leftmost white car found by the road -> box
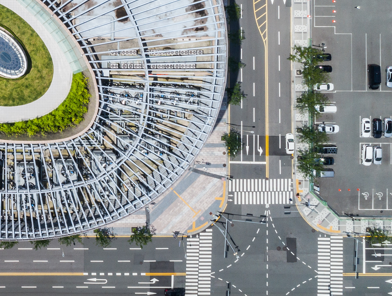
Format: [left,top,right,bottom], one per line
[283,133,296,154]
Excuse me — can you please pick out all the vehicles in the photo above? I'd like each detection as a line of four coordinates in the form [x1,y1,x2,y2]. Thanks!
[283,133,296,154]
[385,66,392,87]
[368,65,382,89]
[314,156,334,165]
[371,118,383,138]
[360,118,372,138]
[311,52,333,62]
[373,147,383,164]
[361,144,374,166]
[165,287,185,296]
[318,124,339,134]
[315,145,337,154]
[313,82,334,91]
[382,117,392,138]
[314,103,339,114]
[313,167,336,178]
[313,65,333,74]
